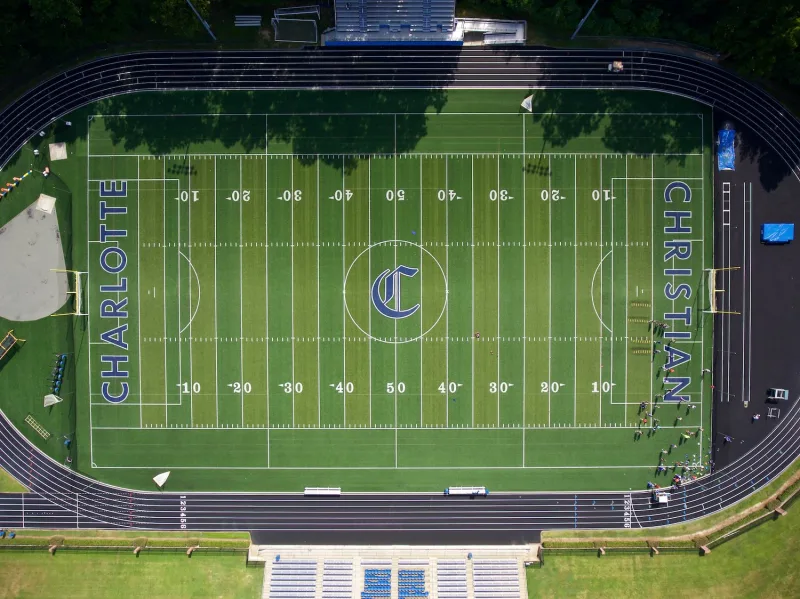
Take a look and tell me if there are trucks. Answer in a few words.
No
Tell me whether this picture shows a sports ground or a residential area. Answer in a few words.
sports ground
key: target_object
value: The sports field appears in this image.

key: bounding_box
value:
[88,114,704,468]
